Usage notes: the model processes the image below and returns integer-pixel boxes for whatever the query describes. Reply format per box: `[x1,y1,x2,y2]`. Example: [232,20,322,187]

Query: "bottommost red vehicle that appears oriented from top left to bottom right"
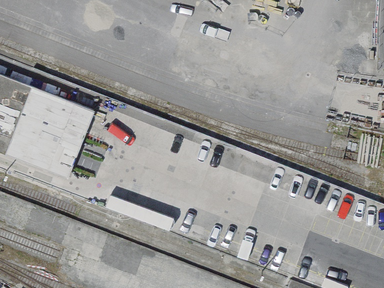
[108,124,134,145]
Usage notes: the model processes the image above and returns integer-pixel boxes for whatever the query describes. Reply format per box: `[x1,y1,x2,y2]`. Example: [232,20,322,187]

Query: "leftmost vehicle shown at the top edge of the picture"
[170,2,196,16]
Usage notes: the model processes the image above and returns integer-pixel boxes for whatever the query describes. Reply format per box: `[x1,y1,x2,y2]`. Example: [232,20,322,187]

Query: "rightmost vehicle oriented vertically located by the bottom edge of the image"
[300,256,312,278]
